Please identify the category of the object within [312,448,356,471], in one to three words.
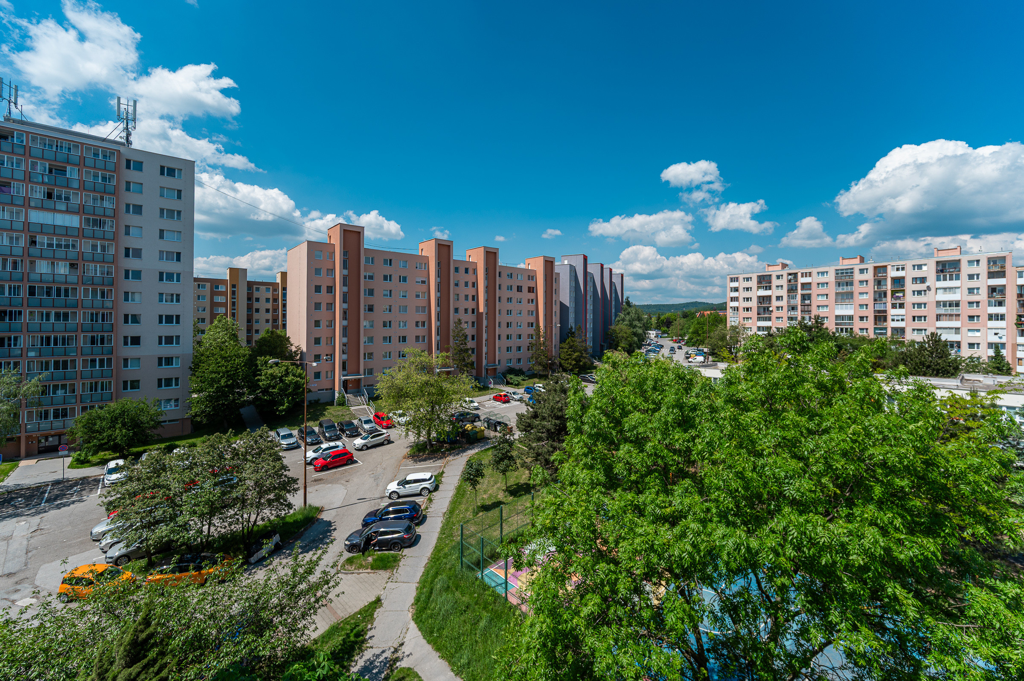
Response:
car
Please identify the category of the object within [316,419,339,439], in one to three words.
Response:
car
